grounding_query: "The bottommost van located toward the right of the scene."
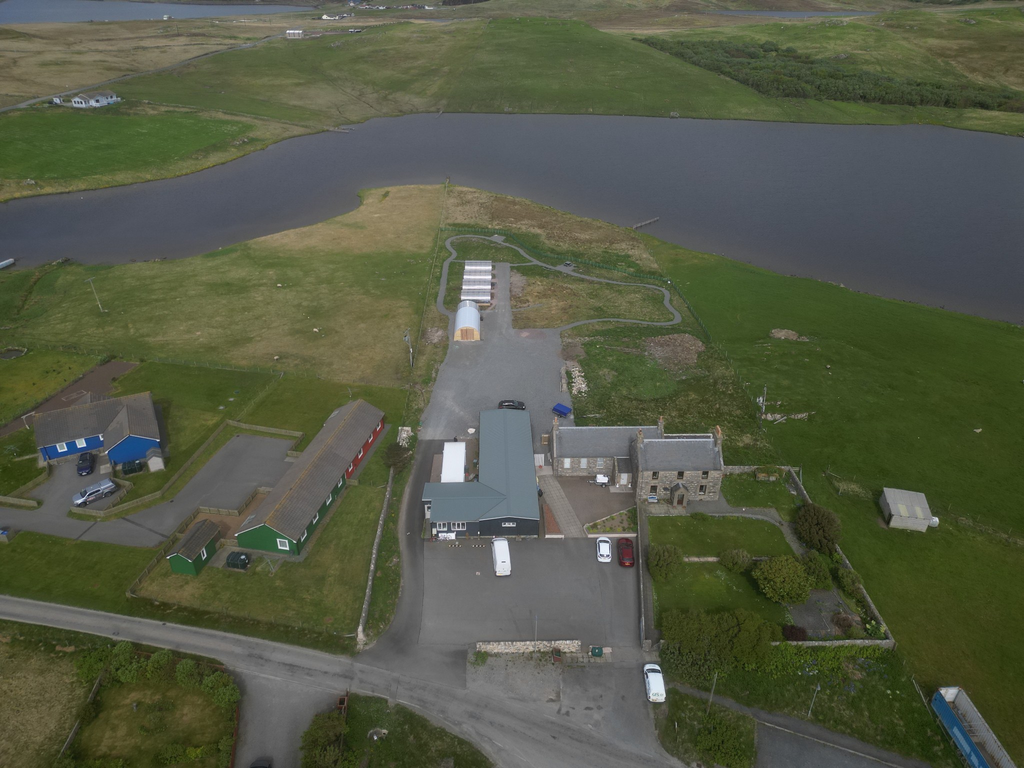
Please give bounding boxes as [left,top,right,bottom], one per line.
[637,660,668,702]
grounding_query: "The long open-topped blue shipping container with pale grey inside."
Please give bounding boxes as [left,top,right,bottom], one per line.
[930,686,1015,768]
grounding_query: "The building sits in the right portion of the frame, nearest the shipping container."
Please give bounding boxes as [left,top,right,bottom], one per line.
[882,486,931,532]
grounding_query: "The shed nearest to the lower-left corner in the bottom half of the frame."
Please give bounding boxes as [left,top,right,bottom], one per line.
[167,519,224,575]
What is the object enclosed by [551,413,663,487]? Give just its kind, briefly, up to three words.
building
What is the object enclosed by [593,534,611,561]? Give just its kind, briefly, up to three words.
car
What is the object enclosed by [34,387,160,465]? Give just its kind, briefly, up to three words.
house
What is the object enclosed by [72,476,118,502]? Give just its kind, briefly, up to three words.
truck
